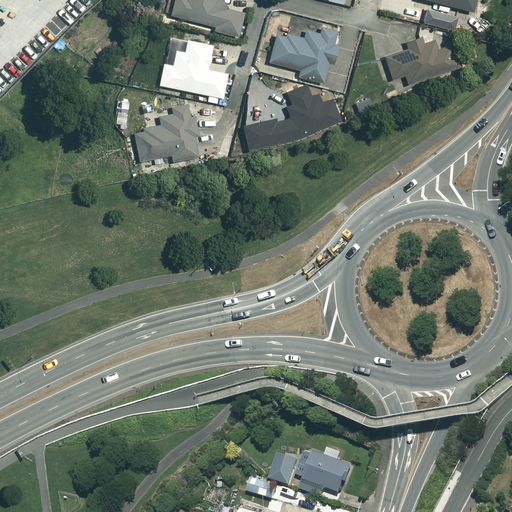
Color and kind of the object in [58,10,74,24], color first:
white car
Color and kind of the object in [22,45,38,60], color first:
white car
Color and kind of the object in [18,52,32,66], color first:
red vehicle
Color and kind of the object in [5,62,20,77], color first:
red car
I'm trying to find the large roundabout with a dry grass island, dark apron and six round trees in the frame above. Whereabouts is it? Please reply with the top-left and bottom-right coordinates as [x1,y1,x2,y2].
[338,201,512,379]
